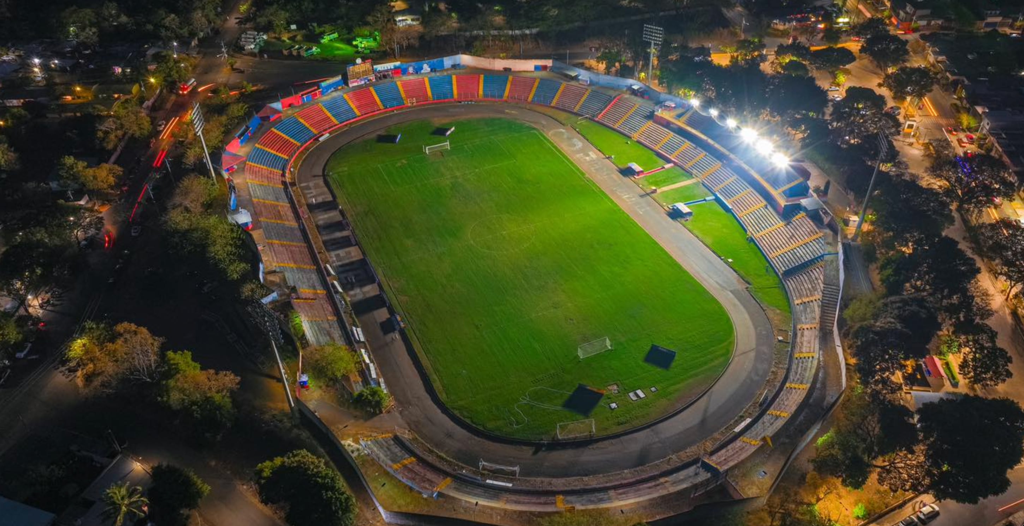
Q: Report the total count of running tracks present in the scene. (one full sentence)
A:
The picture shows just 1 running track.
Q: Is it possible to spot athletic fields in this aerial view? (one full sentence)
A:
Yes, there's an athletic field here.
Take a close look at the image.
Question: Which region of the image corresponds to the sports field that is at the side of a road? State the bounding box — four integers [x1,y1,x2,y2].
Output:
[324,114,733,440]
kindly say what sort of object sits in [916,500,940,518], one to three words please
car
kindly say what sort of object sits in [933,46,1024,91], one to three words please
building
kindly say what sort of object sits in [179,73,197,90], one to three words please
vehicle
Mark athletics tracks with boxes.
[296,102,774,475]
